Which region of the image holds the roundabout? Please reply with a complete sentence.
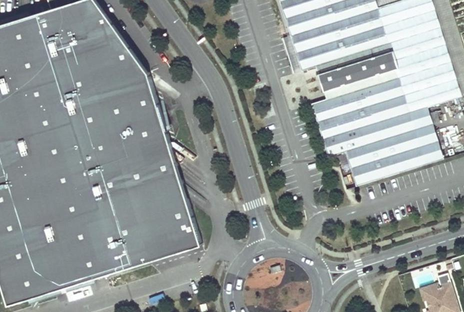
Look in the bottom portion of the view to spot the roundabout.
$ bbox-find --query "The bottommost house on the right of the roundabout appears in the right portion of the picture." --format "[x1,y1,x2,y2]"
[420,274,462,312]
